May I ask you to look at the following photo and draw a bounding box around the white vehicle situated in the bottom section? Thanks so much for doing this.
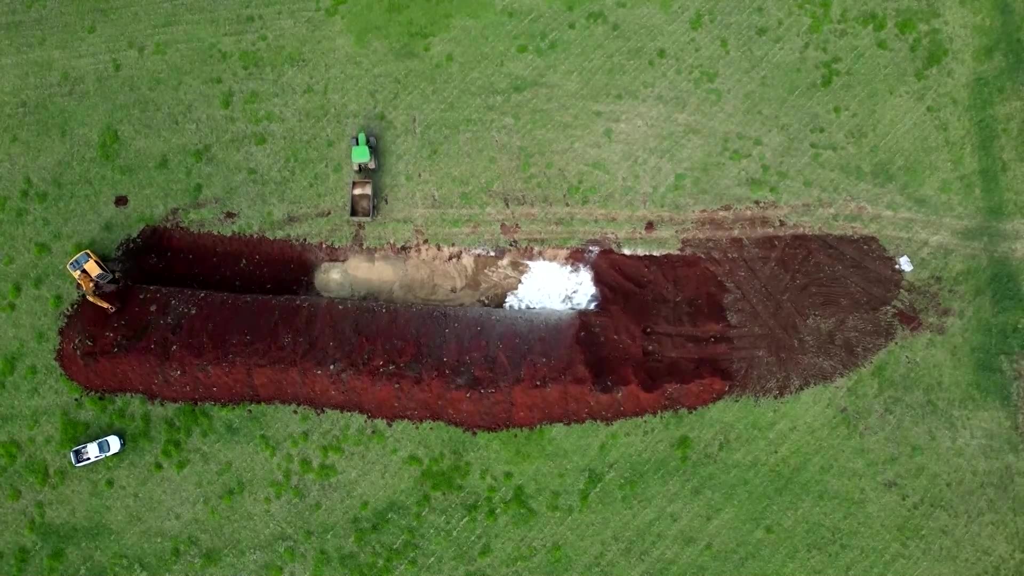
[70,434,127,467]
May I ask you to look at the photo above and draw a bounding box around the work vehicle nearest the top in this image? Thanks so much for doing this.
[348,133,377,180]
